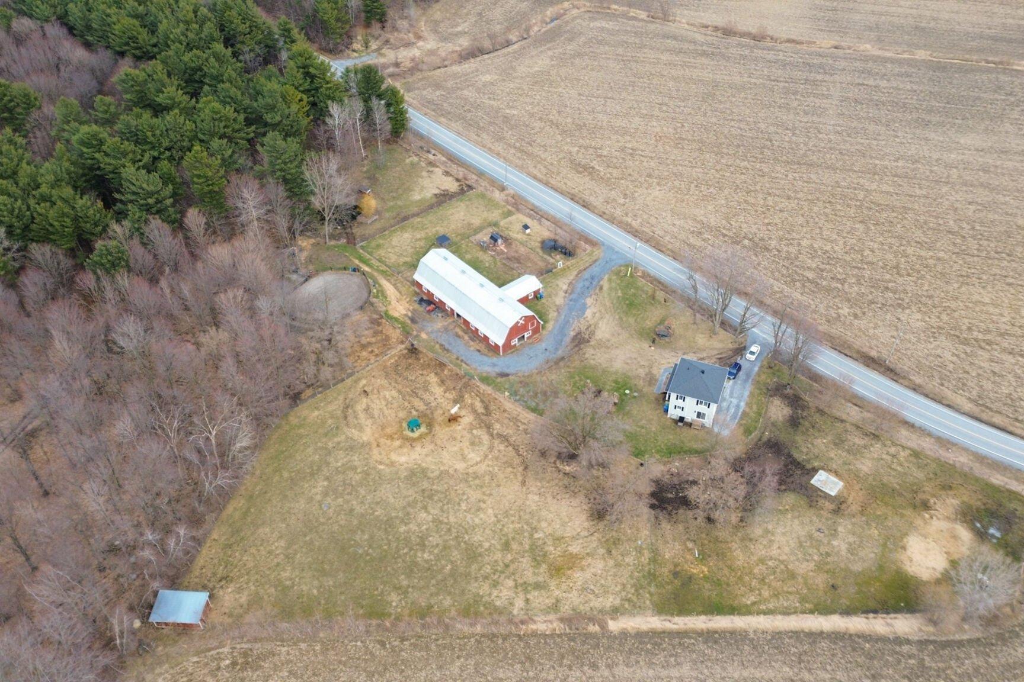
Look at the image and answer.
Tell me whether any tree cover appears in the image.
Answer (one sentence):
Yes, tree cover shows up in the scene.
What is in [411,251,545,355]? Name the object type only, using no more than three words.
barn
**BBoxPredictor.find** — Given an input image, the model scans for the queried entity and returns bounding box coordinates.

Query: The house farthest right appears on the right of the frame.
[661,360,728,433]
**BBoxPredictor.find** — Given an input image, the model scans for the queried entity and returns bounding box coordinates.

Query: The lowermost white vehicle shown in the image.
[747,344,759,362]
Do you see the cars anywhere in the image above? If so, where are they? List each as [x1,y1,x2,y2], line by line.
[728,361,741,381]
[747,344,759,362]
